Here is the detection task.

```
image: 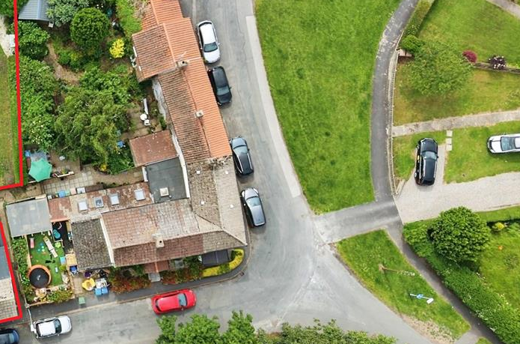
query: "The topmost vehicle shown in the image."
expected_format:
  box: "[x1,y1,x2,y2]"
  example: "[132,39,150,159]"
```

[194,19,222,65]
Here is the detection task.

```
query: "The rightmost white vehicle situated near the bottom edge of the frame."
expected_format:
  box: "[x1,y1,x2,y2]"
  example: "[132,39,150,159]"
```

[31,314,72,338]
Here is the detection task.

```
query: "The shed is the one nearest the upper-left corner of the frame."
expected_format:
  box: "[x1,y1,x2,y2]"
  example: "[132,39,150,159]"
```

[18,0,50,23]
